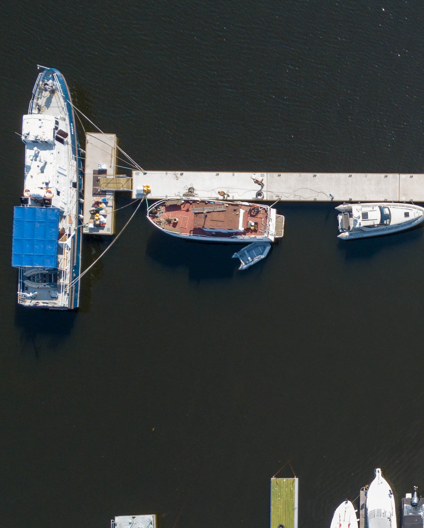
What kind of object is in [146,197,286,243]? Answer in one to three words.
boat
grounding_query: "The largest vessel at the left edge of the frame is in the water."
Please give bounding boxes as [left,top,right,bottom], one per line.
[11,64,137,309]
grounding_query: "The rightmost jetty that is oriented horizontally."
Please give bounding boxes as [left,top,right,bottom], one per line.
[131,170,424,204]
